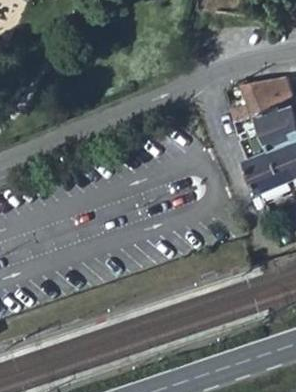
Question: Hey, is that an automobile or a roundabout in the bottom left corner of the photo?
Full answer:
Visible in the bottom left corner of the photo is an automobile.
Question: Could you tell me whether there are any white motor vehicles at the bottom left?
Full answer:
Yes, a white motor vehicle shows up at the bottom left.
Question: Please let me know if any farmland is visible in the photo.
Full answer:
No, no farmland is visible.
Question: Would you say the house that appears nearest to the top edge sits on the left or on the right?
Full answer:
The house that appears nearest to the top edge sits on the right side.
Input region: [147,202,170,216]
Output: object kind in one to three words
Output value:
car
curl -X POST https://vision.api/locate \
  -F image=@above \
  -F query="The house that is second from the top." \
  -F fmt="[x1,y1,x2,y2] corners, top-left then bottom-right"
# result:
[253,106,296,154]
